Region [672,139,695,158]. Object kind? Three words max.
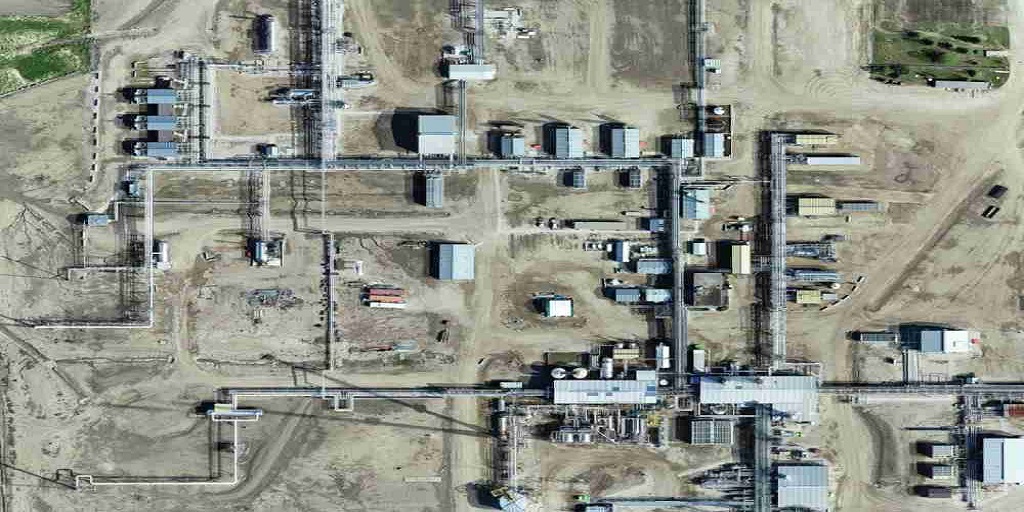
building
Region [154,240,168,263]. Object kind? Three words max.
shed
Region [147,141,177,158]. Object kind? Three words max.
shed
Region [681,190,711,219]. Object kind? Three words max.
building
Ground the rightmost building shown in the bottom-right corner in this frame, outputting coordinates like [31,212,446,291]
[983,437,1024,487]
